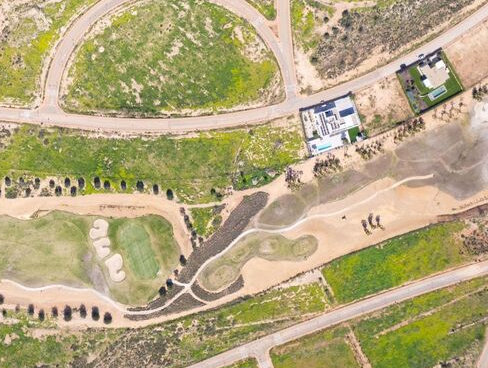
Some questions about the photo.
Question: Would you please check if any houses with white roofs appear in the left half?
No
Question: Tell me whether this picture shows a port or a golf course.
golf course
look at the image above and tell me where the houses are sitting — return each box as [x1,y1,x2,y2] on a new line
[415,55,450,88]
[314,103,361,137]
